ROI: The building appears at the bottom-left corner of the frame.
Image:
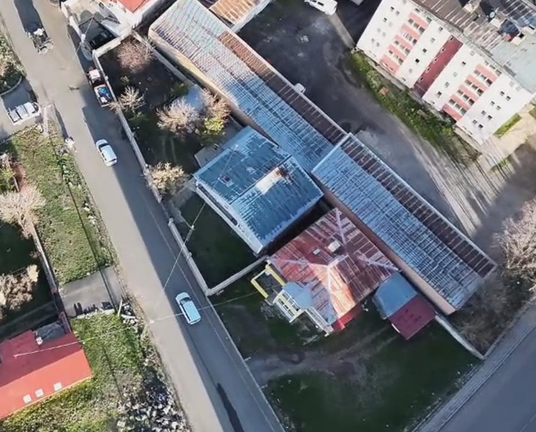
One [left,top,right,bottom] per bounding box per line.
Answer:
[0,323,93,424]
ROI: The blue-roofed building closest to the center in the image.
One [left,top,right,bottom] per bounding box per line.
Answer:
[192,130,321,254]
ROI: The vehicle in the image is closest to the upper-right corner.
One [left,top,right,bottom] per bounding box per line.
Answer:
[303,0,340,16]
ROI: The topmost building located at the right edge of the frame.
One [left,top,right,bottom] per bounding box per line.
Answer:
[361,0,536,141]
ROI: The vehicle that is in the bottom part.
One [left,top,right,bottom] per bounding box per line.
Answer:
[175,291,203,328]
